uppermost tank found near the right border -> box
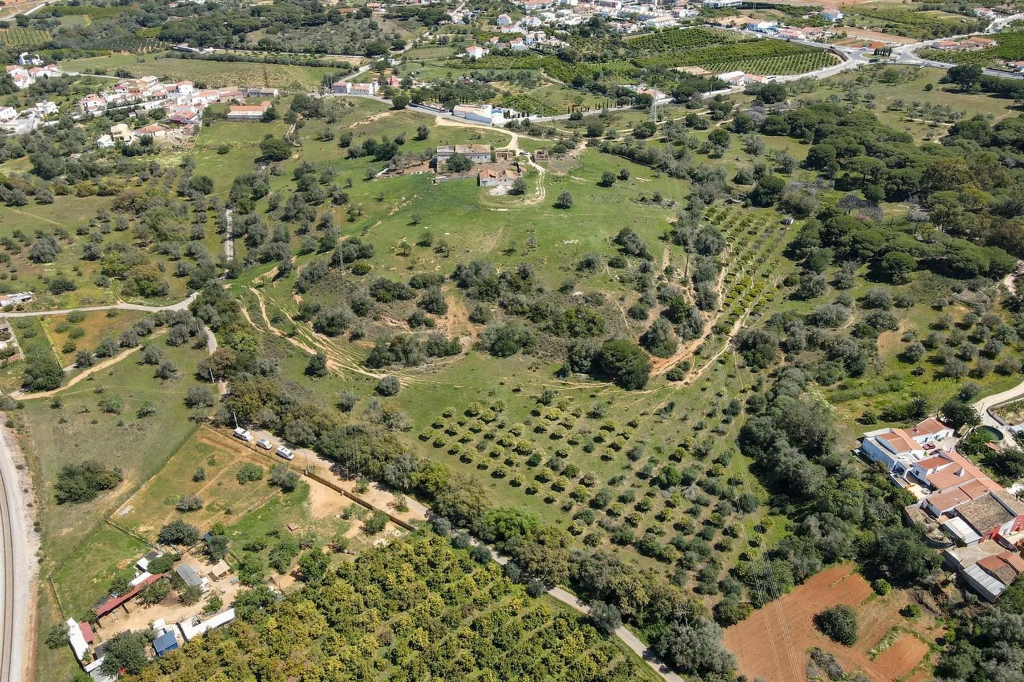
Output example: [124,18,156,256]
[975,420,1007,442]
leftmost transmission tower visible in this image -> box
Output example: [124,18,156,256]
[328,222,345,276]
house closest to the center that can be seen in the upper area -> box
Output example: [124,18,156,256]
[479,169,519,189]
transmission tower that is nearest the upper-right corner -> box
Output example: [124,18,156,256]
[650,82,663,121]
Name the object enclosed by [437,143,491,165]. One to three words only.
house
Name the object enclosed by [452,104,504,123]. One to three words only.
house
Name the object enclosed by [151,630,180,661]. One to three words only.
shed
